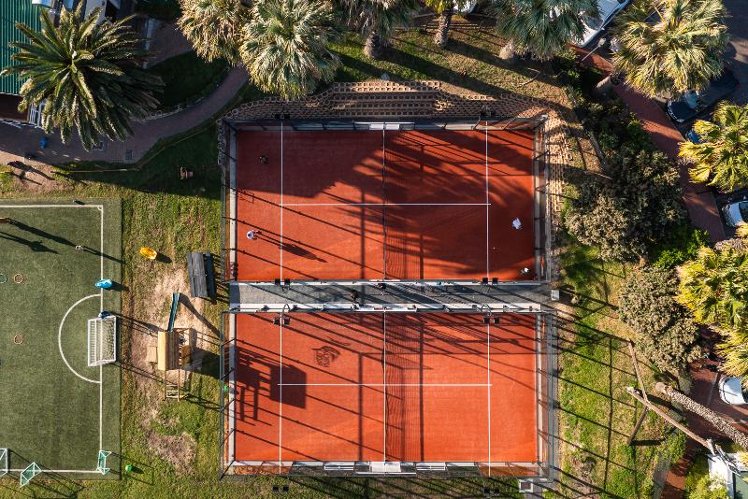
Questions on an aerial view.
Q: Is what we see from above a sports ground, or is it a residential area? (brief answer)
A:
sports ground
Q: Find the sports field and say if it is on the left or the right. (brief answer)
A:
left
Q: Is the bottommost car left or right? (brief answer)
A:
right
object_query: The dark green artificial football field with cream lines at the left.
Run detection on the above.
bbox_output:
[0,199,123,480]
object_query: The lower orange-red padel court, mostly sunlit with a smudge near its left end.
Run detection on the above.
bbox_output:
[224,298,549,476]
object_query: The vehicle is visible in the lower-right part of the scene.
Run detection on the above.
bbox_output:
[719,376,748,410]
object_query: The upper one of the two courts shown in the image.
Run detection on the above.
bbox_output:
[223,118,546,293]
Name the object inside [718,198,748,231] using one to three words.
car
